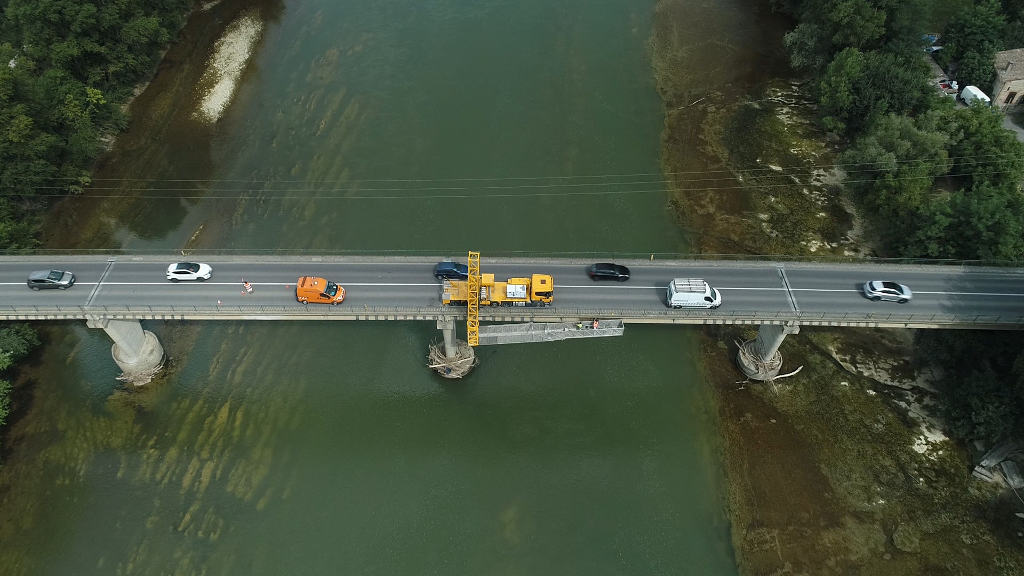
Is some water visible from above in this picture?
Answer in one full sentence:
Yes, there is water in the image.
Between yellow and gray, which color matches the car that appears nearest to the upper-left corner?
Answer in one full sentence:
The car that appears nearest to the upper-left corner is gray.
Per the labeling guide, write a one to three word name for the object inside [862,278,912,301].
car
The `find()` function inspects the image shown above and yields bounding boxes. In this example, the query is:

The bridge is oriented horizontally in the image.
[0,253,1024,383]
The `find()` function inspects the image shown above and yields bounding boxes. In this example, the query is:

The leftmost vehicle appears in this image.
[27,267,79,288]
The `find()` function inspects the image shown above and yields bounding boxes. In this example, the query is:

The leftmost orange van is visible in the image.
[293,274,349,303]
